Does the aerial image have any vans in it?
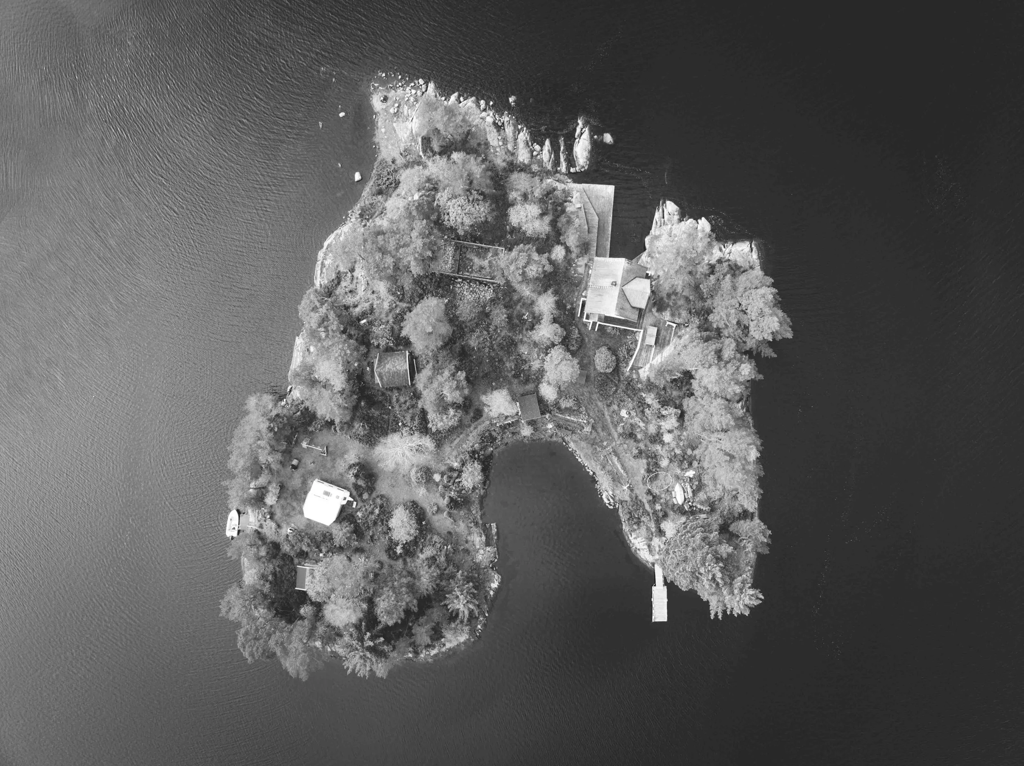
No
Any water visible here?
Yes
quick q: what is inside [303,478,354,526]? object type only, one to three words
house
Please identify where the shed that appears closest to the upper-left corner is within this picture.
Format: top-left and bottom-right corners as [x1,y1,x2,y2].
[374,351,411,388]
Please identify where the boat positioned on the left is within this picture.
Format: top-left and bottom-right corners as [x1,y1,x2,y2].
[226,509,239,540]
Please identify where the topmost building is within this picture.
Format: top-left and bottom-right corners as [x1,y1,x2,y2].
[584,257,650,322]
